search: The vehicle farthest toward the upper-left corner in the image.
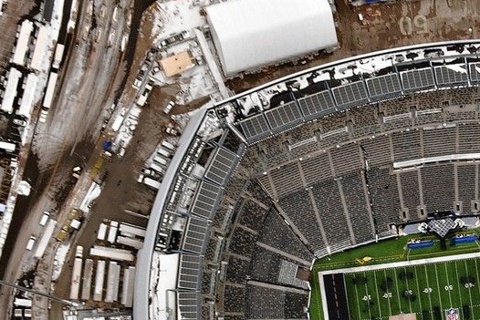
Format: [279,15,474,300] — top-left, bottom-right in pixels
[52,43,65,68]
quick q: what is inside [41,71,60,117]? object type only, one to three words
vehicle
